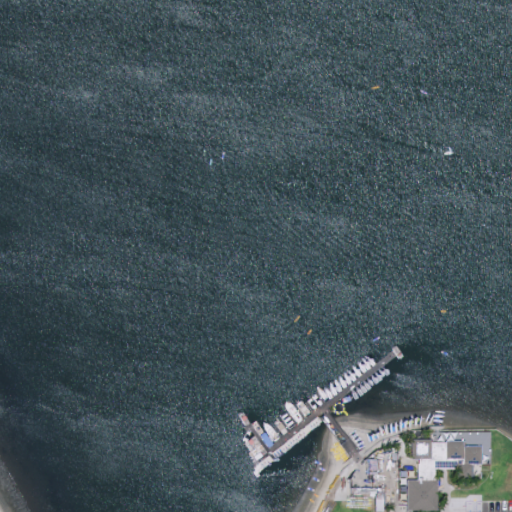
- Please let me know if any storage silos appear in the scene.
No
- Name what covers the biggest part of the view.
water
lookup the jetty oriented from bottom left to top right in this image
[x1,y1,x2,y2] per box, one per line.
[253,352,398,465]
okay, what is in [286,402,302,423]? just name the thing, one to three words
boat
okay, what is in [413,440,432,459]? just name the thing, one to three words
building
